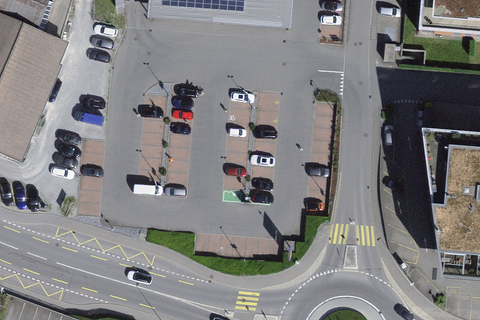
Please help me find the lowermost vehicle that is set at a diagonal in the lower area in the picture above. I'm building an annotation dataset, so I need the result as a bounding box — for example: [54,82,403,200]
[393,304,415,320]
